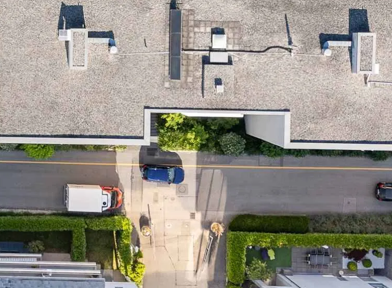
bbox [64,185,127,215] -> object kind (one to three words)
truck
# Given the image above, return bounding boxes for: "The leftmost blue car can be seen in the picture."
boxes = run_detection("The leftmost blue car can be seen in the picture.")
[140,164,183,186]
